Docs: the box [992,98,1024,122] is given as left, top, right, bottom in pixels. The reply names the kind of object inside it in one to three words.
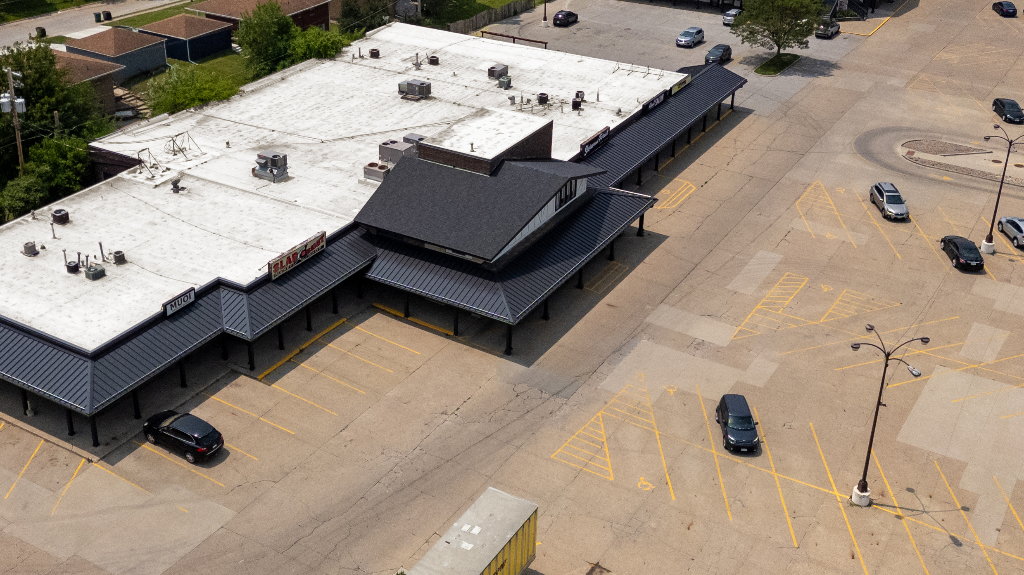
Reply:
car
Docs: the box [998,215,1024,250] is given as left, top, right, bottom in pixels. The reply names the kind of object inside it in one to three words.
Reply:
car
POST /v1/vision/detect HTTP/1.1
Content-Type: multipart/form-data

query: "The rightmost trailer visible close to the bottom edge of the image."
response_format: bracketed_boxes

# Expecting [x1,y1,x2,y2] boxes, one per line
[404,487,539,575]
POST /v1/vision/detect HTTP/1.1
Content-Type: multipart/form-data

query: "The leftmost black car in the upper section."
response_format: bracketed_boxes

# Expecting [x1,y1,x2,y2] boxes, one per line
[552,9,581,27]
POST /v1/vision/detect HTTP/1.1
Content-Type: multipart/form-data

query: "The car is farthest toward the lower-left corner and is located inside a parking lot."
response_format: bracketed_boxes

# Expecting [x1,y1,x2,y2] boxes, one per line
[139,409,225,462]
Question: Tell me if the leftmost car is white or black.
black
